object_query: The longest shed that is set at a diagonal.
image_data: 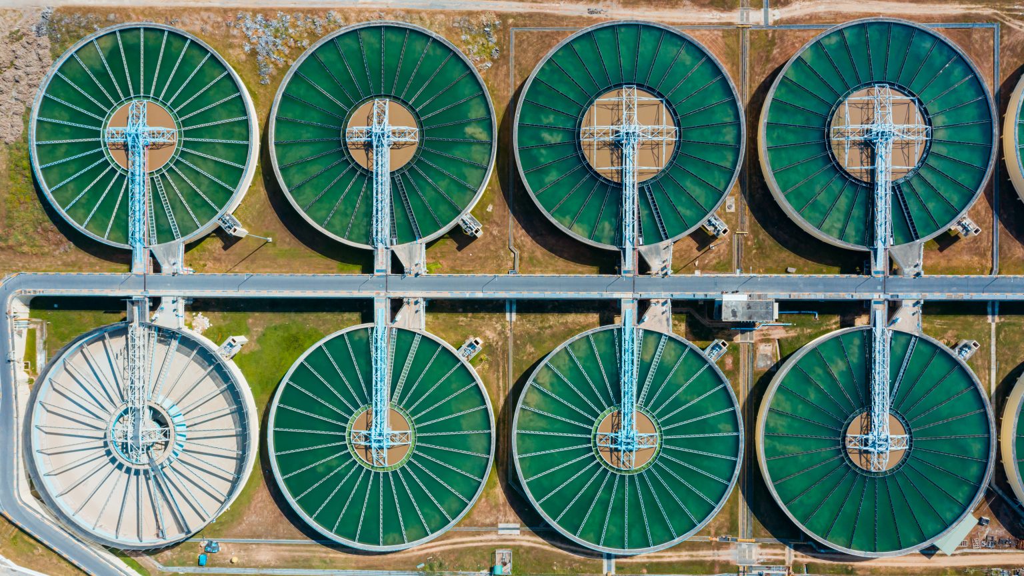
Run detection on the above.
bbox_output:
[935,513,979,556]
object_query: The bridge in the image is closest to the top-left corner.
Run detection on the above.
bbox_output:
[102,98,177,274]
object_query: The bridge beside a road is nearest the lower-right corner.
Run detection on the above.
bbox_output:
[847,305,913,474]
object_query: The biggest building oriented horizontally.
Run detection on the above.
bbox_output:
[714,295,778,323]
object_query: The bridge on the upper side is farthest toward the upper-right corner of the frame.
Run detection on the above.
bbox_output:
[830,82,934,277]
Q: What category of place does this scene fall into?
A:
industrial area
